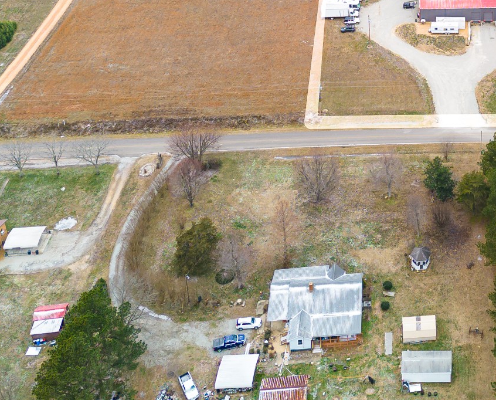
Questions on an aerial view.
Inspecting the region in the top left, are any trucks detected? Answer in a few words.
No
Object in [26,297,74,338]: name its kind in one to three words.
shed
